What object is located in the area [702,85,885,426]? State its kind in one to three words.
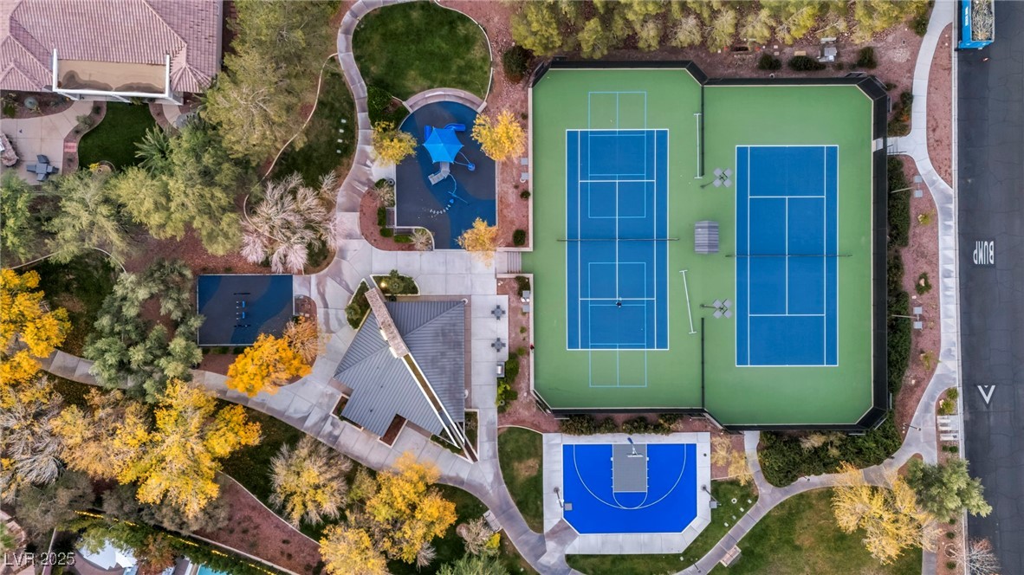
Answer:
tennis court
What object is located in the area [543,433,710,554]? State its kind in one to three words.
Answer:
basketball court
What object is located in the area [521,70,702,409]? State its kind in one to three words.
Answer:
tennis court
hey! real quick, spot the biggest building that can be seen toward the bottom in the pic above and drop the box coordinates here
[331,288,477,461]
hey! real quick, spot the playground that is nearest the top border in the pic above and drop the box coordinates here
[393,101,498,251]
